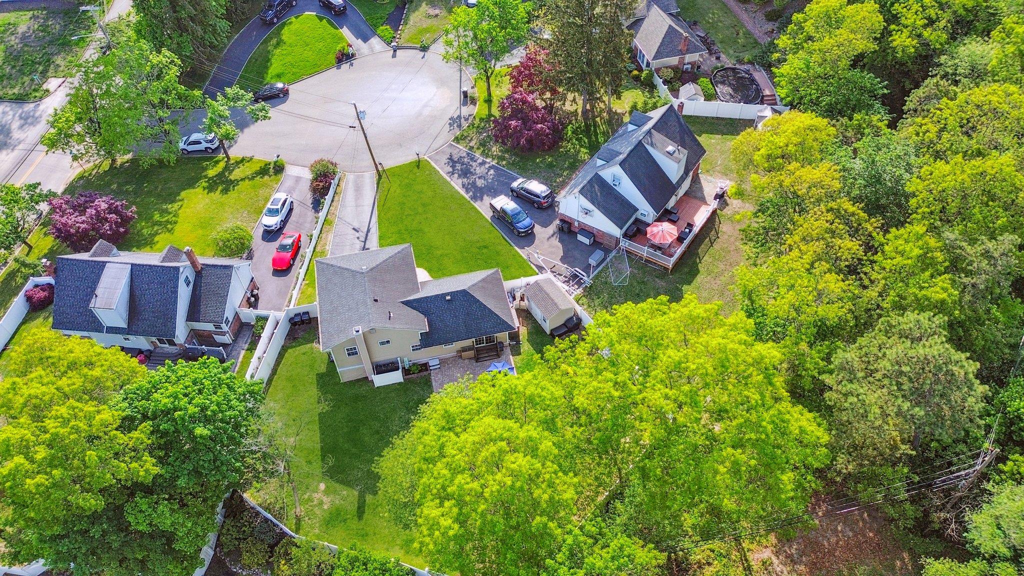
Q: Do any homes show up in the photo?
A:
Yes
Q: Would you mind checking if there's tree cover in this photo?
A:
Yes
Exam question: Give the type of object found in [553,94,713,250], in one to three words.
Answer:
house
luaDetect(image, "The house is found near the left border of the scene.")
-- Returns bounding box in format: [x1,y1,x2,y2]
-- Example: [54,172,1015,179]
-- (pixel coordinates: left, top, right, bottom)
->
[51,236,260,372]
